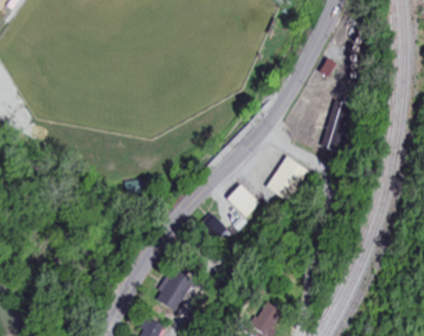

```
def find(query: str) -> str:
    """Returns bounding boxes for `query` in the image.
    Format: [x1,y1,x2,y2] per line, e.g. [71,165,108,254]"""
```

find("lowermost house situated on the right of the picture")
[252,303,280,336]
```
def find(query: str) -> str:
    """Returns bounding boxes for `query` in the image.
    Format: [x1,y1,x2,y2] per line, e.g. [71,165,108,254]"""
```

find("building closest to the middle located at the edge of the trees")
[227,184,258,214]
